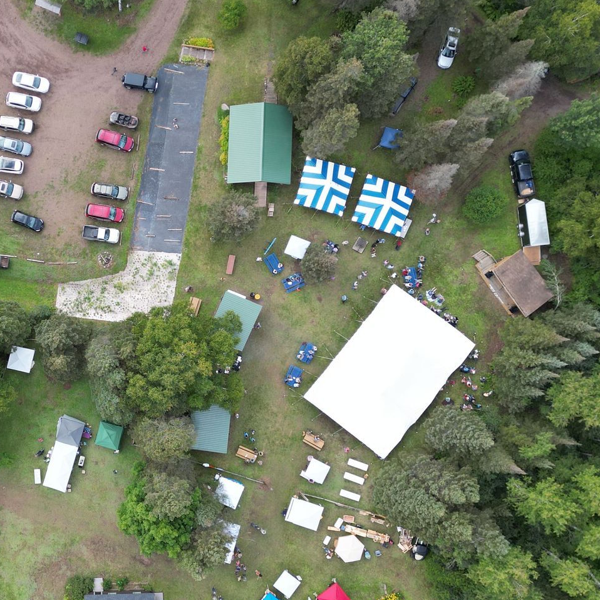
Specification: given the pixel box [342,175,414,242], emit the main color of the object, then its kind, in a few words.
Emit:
white tent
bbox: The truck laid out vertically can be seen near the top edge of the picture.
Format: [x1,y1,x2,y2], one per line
[434,26,460,70]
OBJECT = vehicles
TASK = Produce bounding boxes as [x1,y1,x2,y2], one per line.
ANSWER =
[80,224,121,244]
[9,209,45,232]
[85,203,124,223]
[0,136,33,156]
[510,149,534,200]
[5,90,42,113]
[122,73,156,92]
[112,113,137,128]
[90,181,128,201]
[0,115,34,135]
[94,128,135,151]
[0,256,8,268]
[434,26,460,70]
[12,72,50,94]
[0,180,23,200]
[0,155,25,175]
